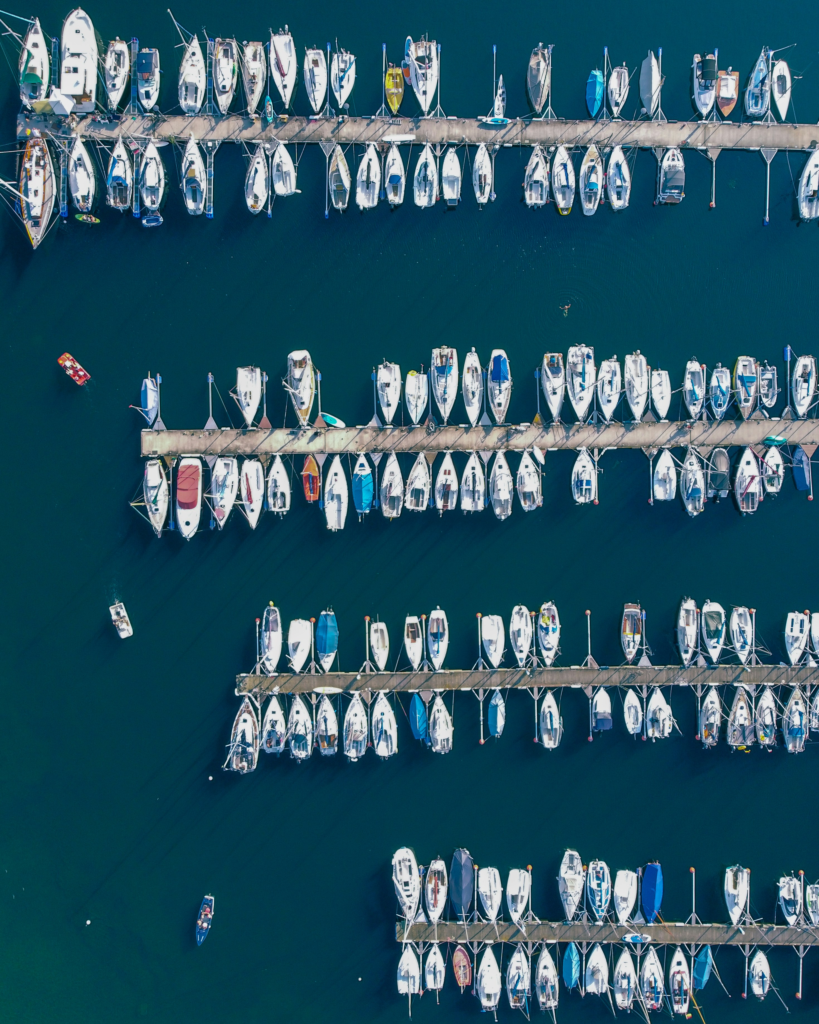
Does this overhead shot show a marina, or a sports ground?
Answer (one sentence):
The area seen from above is a marina.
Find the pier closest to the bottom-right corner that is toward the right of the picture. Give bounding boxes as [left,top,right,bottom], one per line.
[396,920,819,946]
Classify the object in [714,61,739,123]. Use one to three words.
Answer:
boat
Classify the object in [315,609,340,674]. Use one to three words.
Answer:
boat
